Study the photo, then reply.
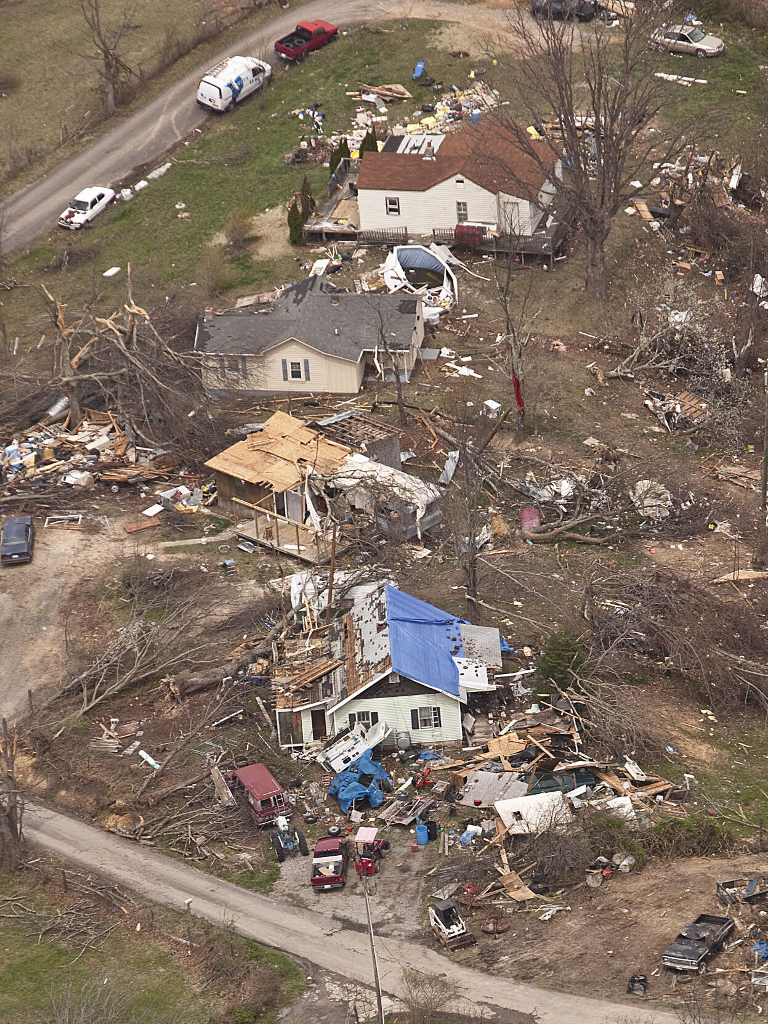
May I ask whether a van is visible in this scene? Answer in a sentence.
Yes, there's a van here.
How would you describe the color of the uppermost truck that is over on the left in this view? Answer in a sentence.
The color of the uppermost truck that is over on the left is red.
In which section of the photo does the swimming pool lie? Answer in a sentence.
The swimming pool is located in the top region of the scene.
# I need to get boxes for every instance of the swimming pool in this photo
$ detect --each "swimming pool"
[387,244,459,308]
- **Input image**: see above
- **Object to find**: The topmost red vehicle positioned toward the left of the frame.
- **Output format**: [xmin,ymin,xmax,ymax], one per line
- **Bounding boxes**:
[270,16,344,56]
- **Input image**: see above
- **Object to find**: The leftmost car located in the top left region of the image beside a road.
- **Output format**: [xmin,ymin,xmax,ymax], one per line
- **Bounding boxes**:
[58,181,116,224]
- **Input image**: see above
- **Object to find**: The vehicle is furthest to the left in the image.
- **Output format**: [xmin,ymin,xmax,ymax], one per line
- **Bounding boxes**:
[0,511,33,561]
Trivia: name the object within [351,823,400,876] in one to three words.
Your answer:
work vehicle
